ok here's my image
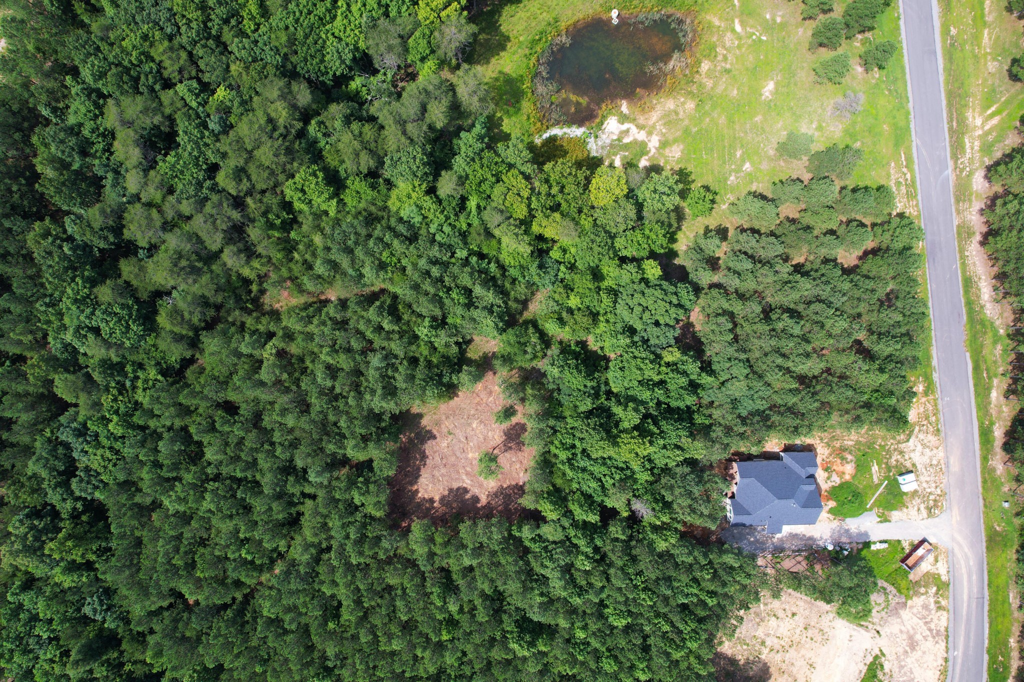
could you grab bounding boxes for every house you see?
[723,451,823,534]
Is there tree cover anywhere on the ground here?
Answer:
Yes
